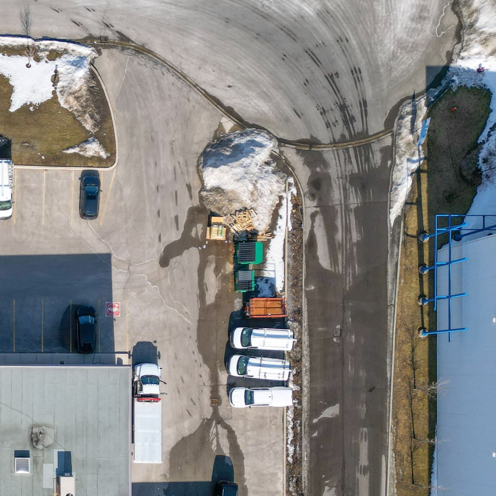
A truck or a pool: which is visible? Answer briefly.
truck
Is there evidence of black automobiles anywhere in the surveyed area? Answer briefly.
Yes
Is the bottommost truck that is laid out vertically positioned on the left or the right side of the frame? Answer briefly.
left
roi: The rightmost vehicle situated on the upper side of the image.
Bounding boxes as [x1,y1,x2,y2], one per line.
[79,176,103,220]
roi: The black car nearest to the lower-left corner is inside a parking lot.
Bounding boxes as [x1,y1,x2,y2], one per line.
[74,306,100,352]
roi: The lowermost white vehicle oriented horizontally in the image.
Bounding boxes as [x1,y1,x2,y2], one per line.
[228,385,297,410]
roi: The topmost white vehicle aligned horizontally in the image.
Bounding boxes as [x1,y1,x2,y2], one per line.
[227,326,301,351]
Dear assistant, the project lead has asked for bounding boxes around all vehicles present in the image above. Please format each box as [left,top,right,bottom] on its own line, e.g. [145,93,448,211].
[212,481,236,496]
[227,326,301,351]
[224,353,298,380]
[228,385,297,410]
[129,355,165,464]
[74,306,100,352]
[79,176,103,220]
[0,159,16,220]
